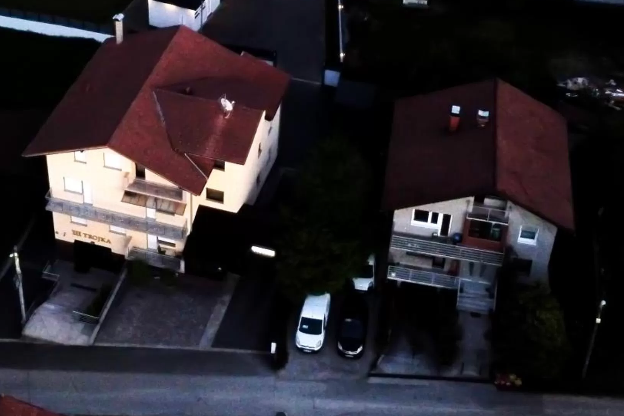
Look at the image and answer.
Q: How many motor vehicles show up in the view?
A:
three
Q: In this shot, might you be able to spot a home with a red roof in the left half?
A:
Yes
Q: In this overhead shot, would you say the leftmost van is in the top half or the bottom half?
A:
bottom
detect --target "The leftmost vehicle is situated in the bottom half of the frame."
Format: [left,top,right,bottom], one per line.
[295,292,331,359]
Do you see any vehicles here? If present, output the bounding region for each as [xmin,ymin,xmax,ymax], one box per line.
[295,292,331,359]
[349,263,384,297]
[337,308,369,363]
